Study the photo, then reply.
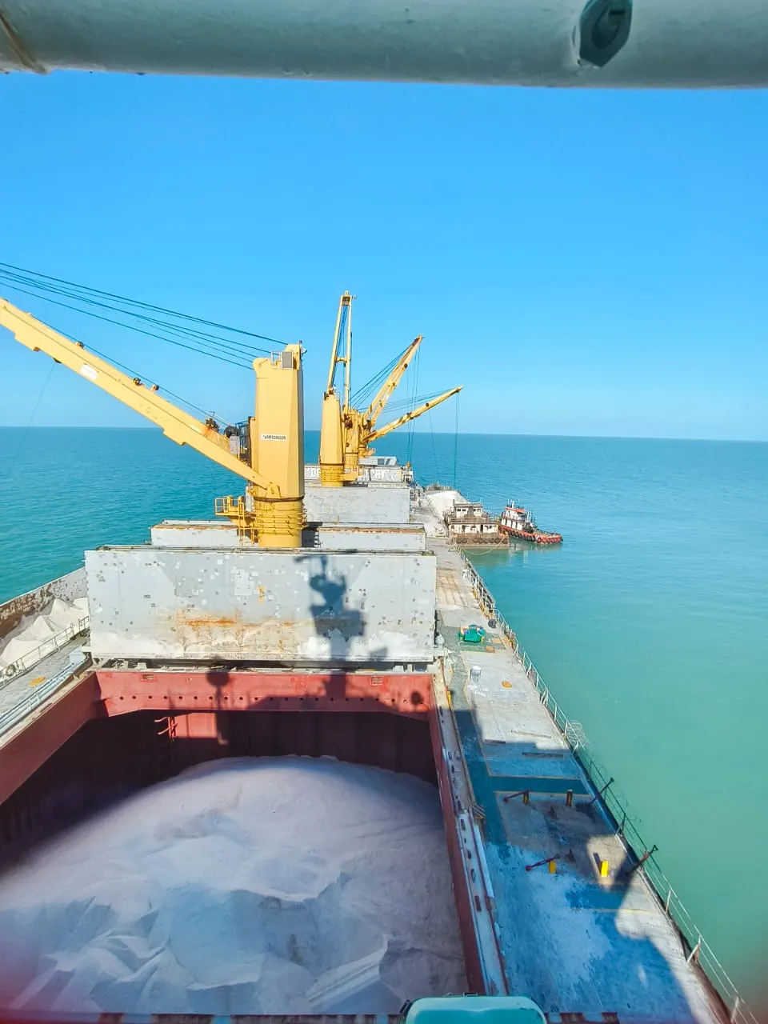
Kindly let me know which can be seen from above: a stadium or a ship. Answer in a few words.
ship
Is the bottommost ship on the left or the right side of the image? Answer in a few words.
left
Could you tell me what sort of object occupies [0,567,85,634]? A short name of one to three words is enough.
ship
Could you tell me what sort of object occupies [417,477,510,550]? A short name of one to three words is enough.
ship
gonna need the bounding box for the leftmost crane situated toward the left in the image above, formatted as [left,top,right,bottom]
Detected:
[0,244,310,669]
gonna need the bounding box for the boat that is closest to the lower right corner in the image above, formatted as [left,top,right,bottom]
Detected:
[498,494,565,544]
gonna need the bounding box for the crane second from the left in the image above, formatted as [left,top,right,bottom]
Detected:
[318,289,364,485]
